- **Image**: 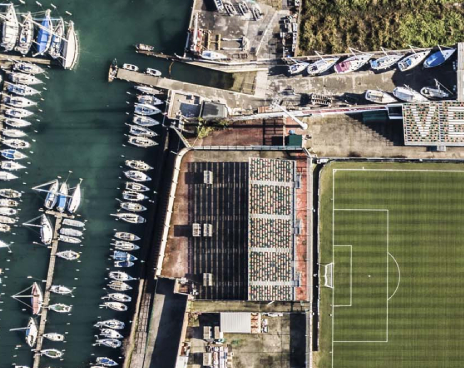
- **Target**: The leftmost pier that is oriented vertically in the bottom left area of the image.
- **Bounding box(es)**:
[33,214,63,368]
